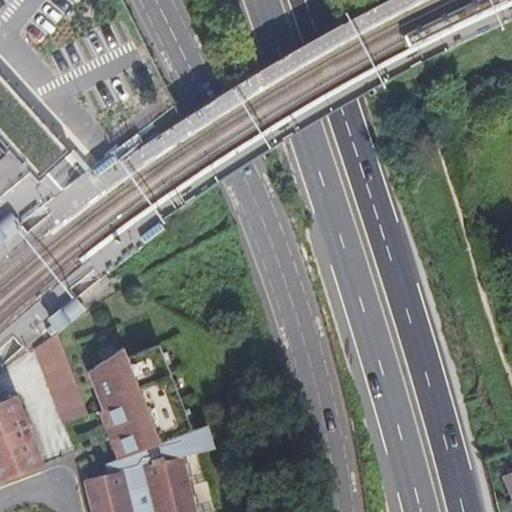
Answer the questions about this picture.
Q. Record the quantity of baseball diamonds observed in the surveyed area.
zero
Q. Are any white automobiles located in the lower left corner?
No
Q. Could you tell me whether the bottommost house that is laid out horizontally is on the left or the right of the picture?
left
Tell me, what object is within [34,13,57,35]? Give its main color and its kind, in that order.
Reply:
white car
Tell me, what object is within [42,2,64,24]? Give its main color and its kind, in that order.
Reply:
white car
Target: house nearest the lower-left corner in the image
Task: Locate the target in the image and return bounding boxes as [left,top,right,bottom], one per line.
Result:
[0,396,44,484]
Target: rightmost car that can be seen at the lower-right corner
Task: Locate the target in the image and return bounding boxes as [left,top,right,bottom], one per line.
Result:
[445,425,460,449]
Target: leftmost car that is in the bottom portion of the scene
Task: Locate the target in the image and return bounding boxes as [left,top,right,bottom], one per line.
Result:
[323,408,338,432]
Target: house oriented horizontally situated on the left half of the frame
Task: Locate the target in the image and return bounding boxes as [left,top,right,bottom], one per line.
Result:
[84,458,199,512]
